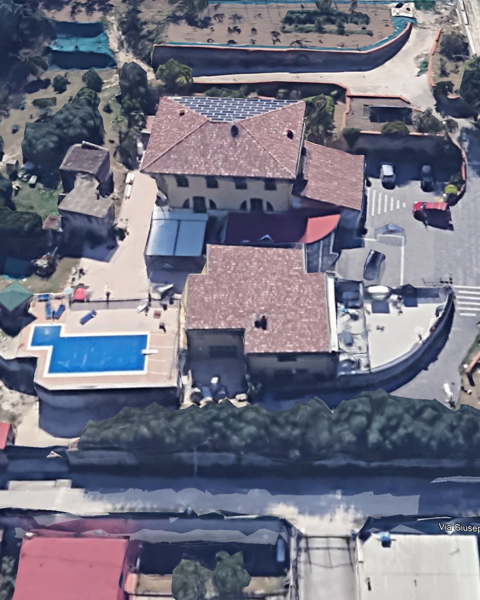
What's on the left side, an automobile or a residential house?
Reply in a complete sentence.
Looking on the left side, you will find a residential house.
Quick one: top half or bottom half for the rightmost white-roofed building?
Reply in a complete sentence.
It is in the bottom half that the rightmost white-roofed building appears.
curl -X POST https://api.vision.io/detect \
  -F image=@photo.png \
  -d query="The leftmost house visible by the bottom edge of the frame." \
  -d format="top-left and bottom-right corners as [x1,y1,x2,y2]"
[7,532,134,600]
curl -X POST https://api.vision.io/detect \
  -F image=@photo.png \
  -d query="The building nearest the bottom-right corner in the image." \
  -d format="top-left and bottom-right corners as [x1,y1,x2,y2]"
[354,532,480,600]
